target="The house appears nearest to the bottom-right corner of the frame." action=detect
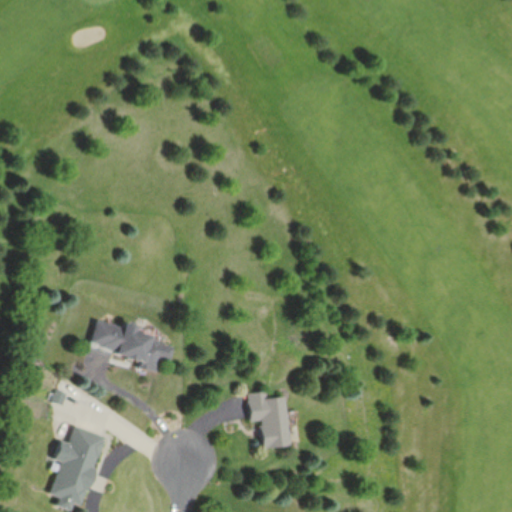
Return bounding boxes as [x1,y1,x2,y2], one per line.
[247,393,292,450]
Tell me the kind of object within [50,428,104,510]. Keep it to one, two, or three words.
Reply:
house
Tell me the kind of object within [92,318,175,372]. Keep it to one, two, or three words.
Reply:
house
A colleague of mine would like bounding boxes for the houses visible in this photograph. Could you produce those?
[247,393,292,450]
[92,318,175,372]
[50,428,104,510]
